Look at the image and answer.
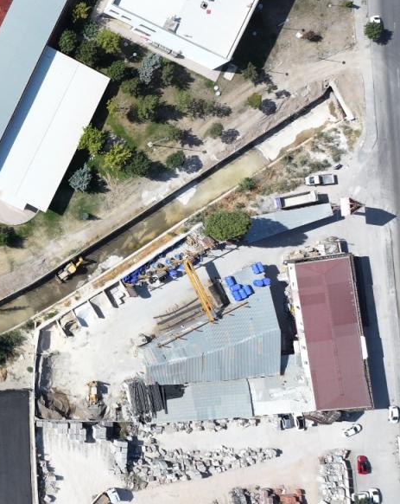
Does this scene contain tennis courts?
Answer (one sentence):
No, the picture doesn't show any tennis court.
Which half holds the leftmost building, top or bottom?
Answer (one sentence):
The leftmost building is in the top half of the image.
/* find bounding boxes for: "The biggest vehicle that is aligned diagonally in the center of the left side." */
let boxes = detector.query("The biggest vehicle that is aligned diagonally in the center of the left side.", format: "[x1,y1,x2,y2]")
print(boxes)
[52,261,84,284]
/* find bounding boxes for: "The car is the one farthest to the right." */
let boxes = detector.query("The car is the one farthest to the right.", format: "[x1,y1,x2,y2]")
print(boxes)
[387,405,399,424]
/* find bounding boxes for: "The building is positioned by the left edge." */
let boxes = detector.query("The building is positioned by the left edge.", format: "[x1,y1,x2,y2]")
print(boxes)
[0,46,110,226]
